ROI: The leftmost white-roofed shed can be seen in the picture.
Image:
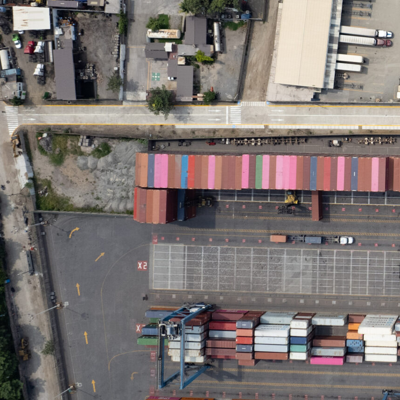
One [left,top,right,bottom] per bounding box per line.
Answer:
[13,6,55,31]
